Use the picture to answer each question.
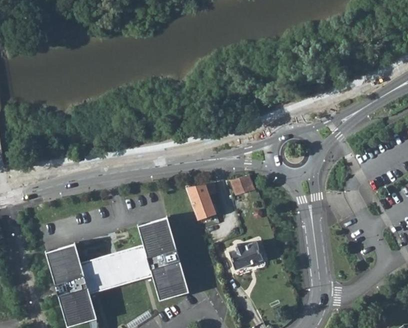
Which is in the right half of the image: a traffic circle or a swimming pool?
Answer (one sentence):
The one visible in the right half of the image is a traffic circle.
